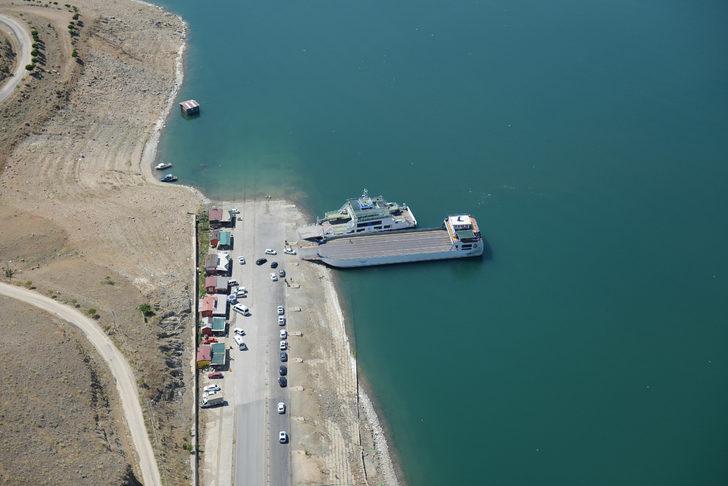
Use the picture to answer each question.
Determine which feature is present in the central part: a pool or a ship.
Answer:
ship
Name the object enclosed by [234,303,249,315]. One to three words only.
vehicle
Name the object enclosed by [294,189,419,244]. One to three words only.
ship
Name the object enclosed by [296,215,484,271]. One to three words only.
ship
